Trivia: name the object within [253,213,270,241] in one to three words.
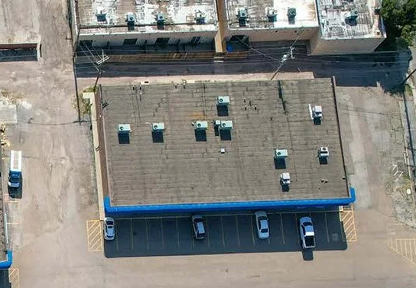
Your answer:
car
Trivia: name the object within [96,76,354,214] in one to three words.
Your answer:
building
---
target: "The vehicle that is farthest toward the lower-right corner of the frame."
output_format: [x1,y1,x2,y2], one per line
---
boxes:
[298,217,316,250]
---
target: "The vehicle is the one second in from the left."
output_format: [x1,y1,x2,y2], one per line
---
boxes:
[103,217,115,242]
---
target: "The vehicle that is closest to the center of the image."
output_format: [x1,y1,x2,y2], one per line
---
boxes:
[191,215,206,241]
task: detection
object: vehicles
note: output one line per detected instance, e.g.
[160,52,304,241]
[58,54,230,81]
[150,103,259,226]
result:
[103,217,115,242]
[298,217,316,250]
[8,150,22,188]
[191,215,206,241]
[253,213,270,241]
